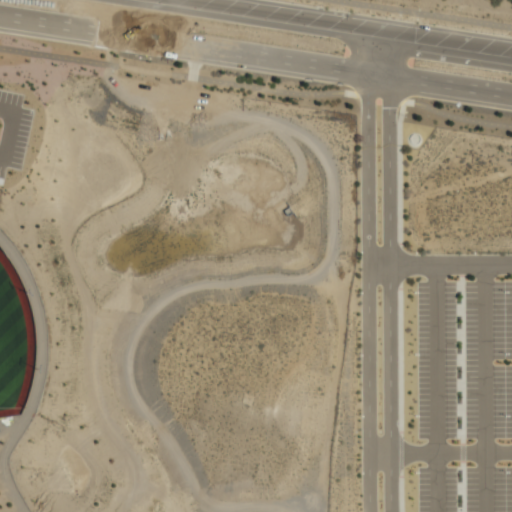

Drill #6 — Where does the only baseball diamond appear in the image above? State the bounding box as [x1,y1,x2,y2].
[0,247,36,417]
